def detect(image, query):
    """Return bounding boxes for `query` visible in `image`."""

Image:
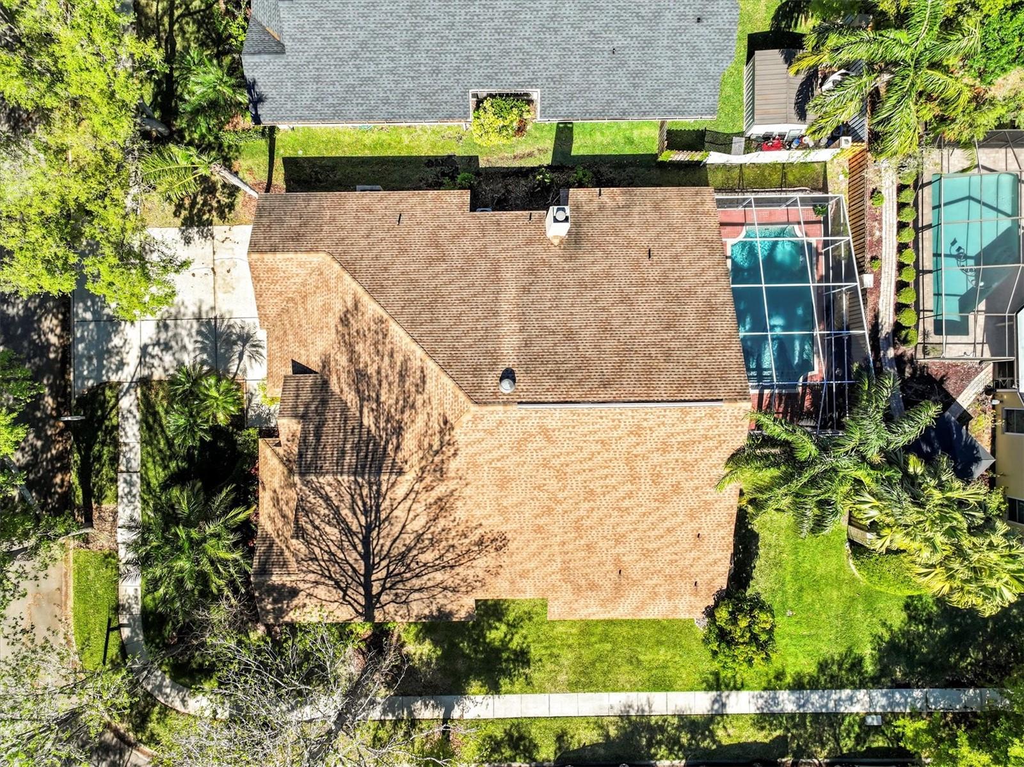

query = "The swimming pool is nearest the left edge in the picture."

[726,220,821,395]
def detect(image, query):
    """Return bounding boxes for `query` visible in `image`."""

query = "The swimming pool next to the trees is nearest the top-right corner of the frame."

[933,170,1022,338]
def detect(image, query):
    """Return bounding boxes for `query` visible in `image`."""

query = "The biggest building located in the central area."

[248,187,750,623]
